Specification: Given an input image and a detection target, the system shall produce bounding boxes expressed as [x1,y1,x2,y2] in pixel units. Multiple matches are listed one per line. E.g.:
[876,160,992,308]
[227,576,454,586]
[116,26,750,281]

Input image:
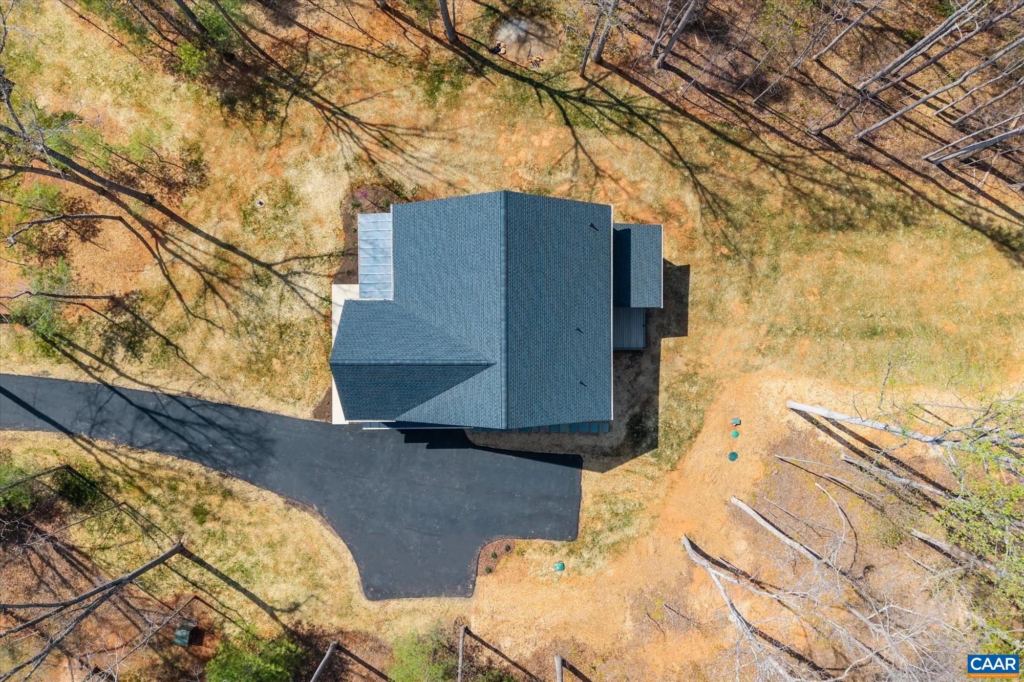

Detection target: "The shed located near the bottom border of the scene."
[172,619,199,648]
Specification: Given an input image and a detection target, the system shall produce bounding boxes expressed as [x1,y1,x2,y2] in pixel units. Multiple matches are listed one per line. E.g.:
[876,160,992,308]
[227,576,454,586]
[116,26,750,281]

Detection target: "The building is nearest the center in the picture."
[330,189,664,430]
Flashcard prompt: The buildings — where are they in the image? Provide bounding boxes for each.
[172,619,199,648]
[330,189,664,430]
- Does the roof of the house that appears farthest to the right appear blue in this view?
Yes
